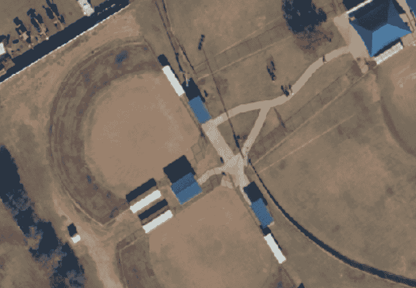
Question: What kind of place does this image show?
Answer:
sports ground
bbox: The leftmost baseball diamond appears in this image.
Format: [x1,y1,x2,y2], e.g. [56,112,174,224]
[49,37,203,224]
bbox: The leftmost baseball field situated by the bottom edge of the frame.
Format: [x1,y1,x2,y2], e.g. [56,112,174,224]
[117,191,292,288]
